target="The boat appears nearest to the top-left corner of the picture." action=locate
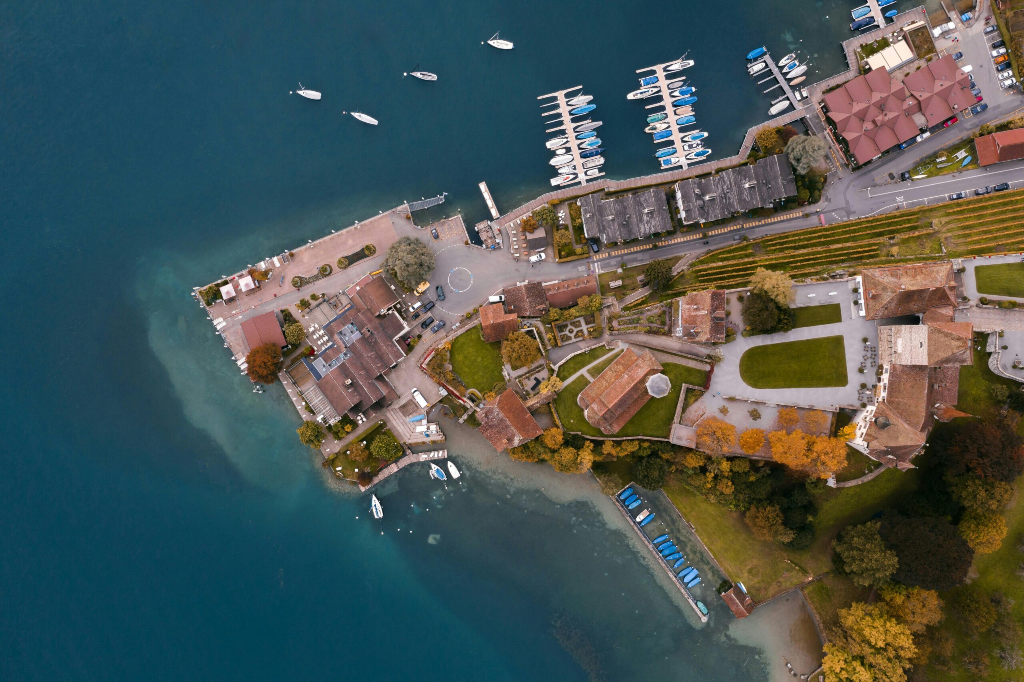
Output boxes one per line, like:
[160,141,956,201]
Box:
[297,84,322,99]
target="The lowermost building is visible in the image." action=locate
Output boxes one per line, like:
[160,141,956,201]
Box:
[719,582,755,620]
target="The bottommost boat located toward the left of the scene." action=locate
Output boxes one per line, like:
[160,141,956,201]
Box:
[368,494,382,519]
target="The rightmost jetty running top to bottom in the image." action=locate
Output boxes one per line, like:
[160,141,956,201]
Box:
[635,58,707,170]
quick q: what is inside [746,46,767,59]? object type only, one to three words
boat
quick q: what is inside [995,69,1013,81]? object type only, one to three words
vehicle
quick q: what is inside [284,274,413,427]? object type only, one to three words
building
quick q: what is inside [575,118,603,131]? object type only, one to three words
boat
